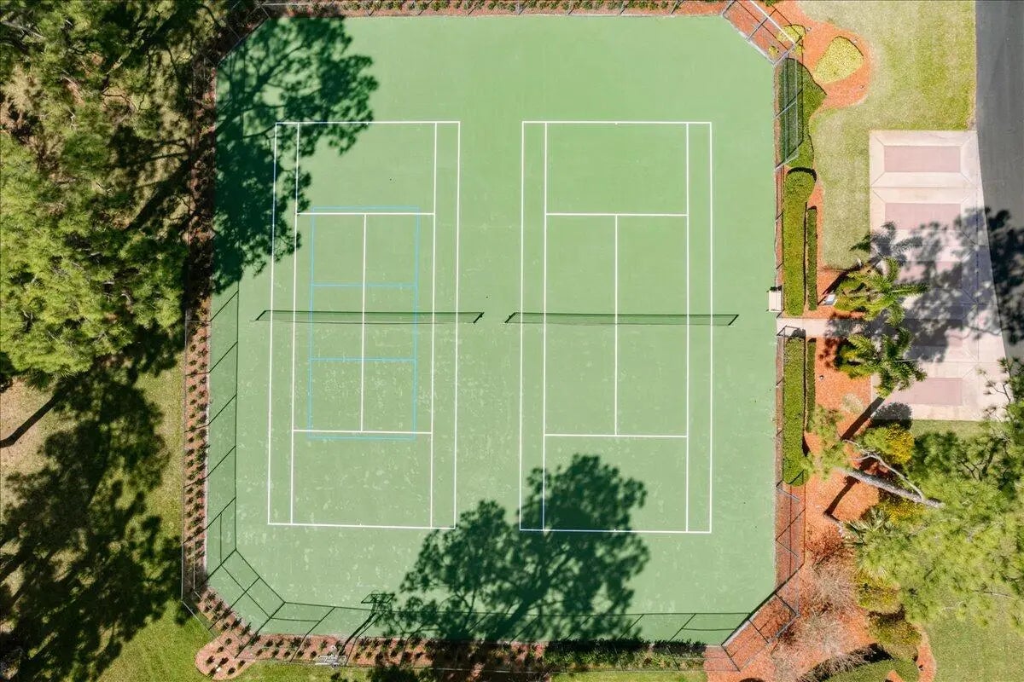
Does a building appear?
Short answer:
No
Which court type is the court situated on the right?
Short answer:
tennis court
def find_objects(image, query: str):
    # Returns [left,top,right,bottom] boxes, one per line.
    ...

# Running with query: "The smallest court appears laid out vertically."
[309,206,419,440]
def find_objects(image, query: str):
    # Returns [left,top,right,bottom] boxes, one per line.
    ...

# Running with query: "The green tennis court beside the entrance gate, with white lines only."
[487,14,776,646]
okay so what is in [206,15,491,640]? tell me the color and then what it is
green tennis court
